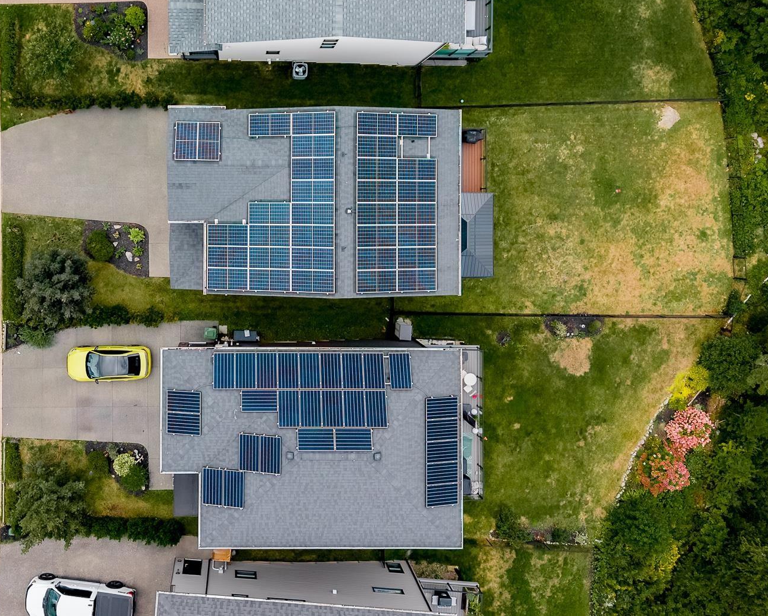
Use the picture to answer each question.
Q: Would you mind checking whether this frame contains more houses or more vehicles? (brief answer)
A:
houses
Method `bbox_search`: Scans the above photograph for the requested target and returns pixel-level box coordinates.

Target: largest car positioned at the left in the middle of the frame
[68,343,152,384]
